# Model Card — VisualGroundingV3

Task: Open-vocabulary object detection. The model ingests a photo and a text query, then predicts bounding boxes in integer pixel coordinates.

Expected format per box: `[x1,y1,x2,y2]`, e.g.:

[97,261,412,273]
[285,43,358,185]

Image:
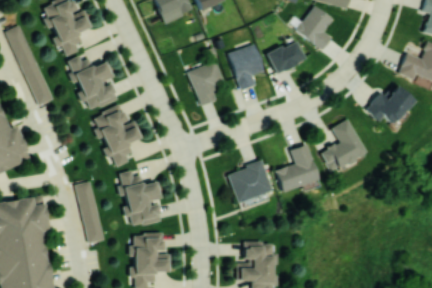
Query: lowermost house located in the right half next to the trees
[240,242,281,288]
